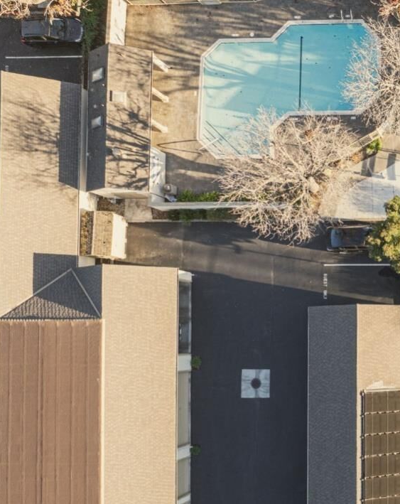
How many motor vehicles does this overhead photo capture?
2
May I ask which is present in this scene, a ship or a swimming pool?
swimming pool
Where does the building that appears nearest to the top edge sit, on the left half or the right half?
left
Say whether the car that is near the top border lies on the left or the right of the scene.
left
